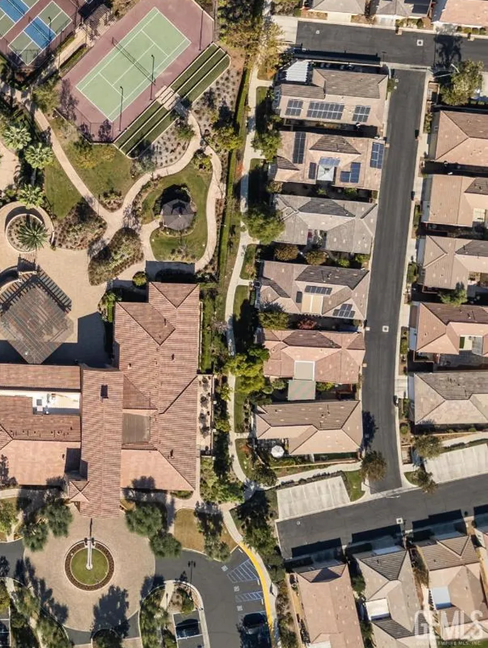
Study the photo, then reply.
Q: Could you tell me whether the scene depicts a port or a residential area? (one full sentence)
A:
It's a residential area.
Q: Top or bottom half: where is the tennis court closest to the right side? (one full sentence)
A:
Seen from above, the tennis court closest to the right side lies in the top half of the view.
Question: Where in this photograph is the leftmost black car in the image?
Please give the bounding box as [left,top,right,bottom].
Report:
[178,623,201,640]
